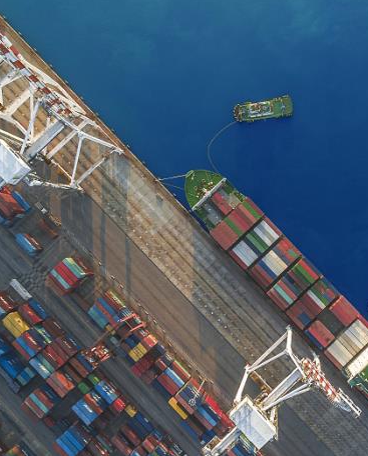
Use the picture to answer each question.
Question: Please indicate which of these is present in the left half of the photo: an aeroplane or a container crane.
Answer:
container crane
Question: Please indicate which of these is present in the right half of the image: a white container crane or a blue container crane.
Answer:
white container crane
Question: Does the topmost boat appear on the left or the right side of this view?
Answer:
right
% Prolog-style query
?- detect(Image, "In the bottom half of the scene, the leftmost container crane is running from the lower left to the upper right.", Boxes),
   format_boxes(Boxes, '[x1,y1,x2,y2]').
[80,307,148,368]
